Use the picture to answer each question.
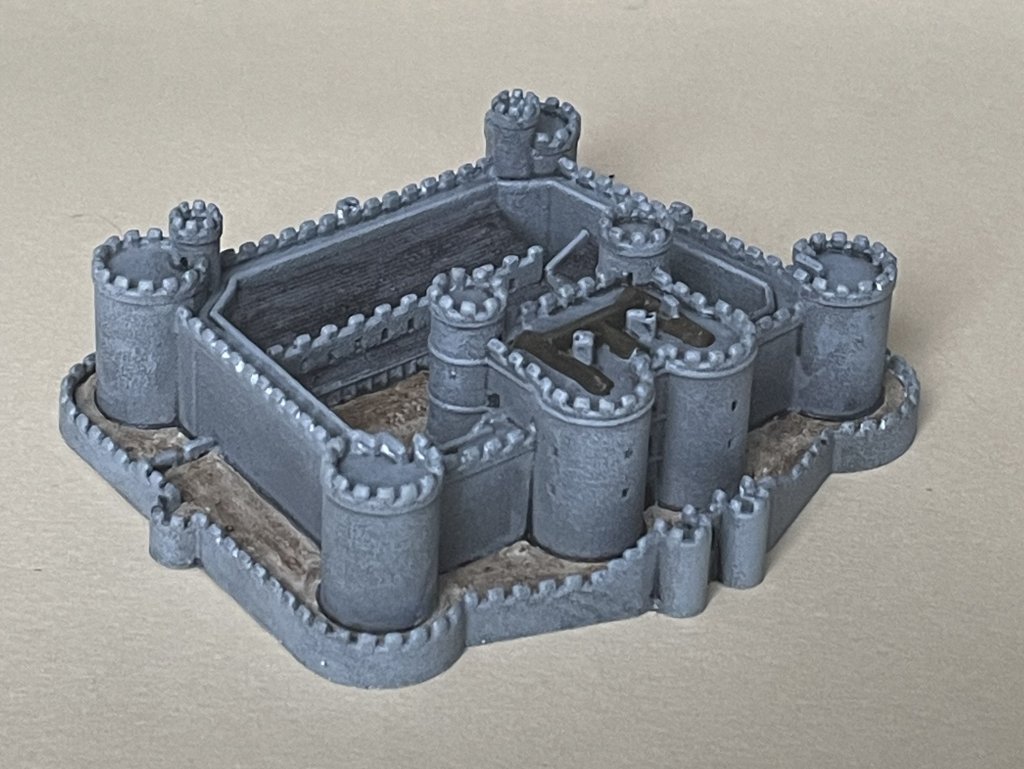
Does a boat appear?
No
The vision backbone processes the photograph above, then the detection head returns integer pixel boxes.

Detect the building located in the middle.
[58,90,919,689]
